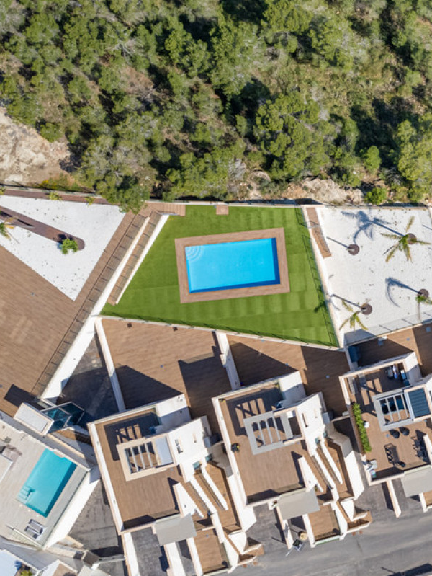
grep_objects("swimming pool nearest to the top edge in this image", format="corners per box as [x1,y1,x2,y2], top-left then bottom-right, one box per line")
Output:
[175,227,290,304]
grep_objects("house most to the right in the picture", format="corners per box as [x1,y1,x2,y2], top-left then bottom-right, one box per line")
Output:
[339,351,432,516]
